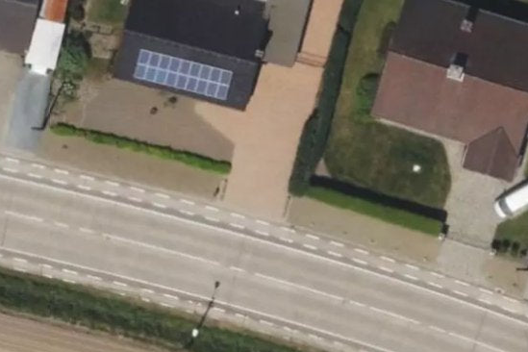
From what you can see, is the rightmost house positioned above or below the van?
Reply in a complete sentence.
Relative to the van, the rightmost house lies above it.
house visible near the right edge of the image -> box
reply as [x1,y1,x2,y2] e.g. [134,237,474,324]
[372,0,528,184]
